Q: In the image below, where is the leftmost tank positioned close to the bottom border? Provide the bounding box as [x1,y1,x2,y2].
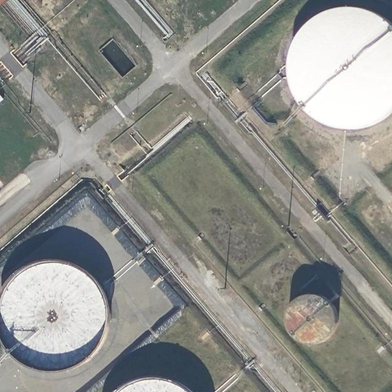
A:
[0,258,108,372]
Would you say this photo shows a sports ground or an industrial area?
industrial area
